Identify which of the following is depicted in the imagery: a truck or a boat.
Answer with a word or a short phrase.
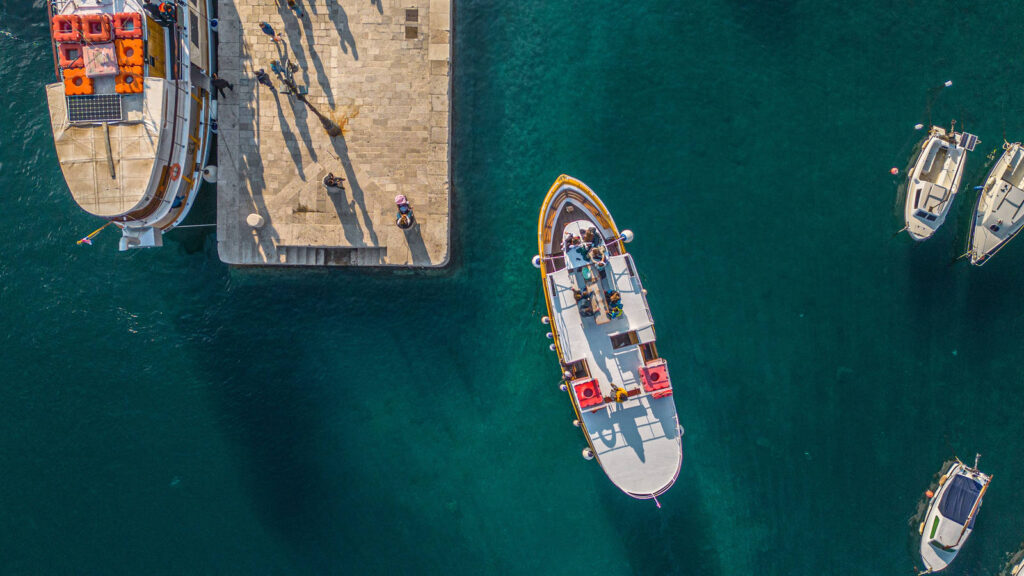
boat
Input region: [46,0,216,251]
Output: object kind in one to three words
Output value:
ship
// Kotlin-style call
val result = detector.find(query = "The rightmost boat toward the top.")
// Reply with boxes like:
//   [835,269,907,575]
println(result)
[968,141,1024,267]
